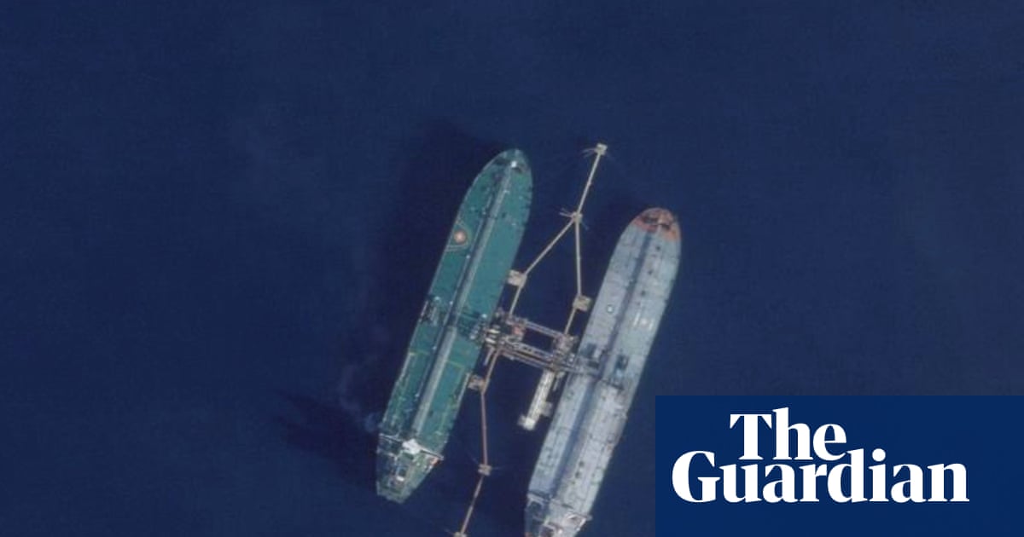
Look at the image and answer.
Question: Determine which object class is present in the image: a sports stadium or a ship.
ship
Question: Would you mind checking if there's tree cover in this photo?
No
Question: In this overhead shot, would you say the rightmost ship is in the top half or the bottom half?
bottom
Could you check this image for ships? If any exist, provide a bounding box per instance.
[375,147,532,504]
[523,208,682,537]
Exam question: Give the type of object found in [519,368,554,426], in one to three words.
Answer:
pier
